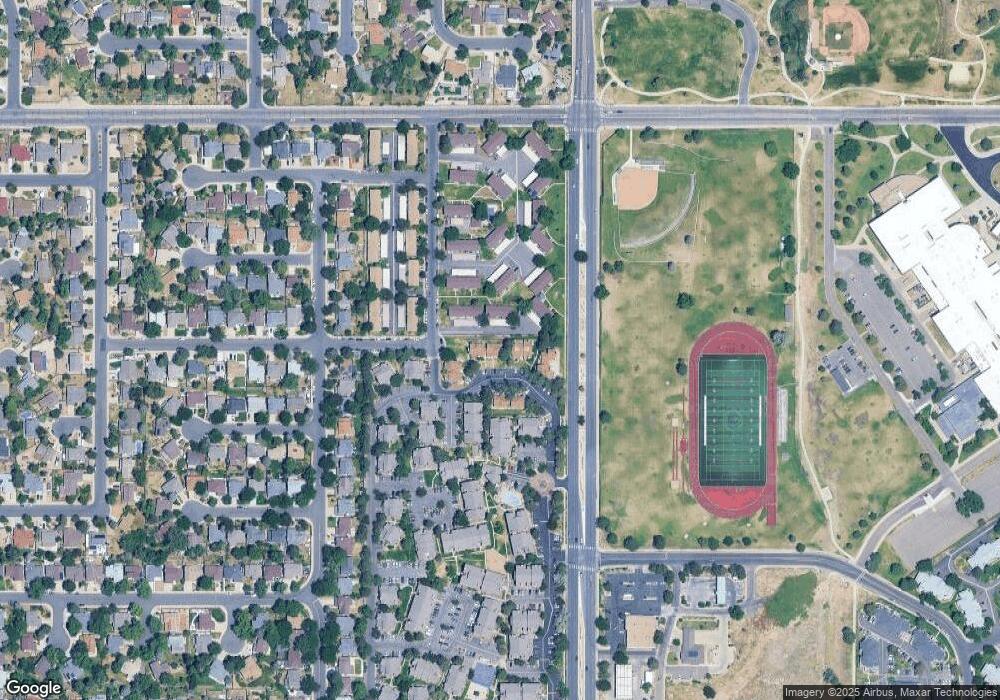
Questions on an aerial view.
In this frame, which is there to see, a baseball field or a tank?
baseball field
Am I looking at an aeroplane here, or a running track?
running track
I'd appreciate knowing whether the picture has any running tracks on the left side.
No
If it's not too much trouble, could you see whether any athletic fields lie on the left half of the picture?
No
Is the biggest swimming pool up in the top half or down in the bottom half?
bottom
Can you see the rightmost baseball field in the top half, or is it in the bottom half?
top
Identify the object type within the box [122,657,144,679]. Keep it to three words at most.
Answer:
house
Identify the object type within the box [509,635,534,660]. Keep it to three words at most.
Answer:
building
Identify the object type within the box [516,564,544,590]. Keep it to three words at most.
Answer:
building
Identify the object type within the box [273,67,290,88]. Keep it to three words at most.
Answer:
house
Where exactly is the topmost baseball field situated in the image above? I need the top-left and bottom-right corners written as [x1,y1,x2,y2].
[810,0,870,62]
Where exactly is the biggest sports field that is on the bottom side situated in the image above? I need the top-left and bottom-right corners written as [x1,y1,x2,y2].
[699,354,767,486]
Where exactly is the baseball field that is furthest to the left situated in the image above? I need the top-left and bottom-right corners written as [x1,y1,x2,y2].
[612,143,726,262]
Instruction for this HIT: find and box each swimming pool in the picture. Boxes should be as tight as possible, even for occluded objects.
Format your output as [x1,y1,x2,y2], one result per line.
[484,203,497,219]
[499,483,527,513]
